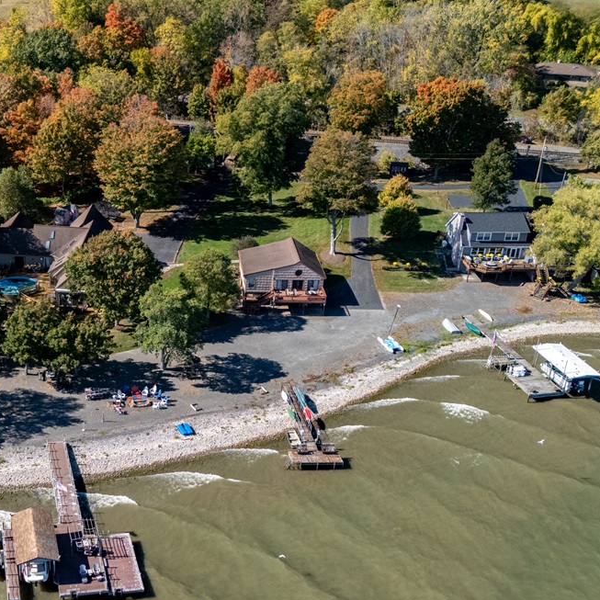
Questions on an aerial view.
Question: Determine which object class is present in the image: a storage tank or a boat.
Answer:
boat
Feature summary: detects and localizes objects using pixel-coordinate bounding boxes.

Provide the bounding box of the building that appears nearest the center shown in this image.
[228,229,331,316]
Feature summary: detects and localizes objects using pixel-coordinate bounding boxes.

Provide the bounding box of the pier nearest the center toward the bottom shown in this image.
[287,390,344,472]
